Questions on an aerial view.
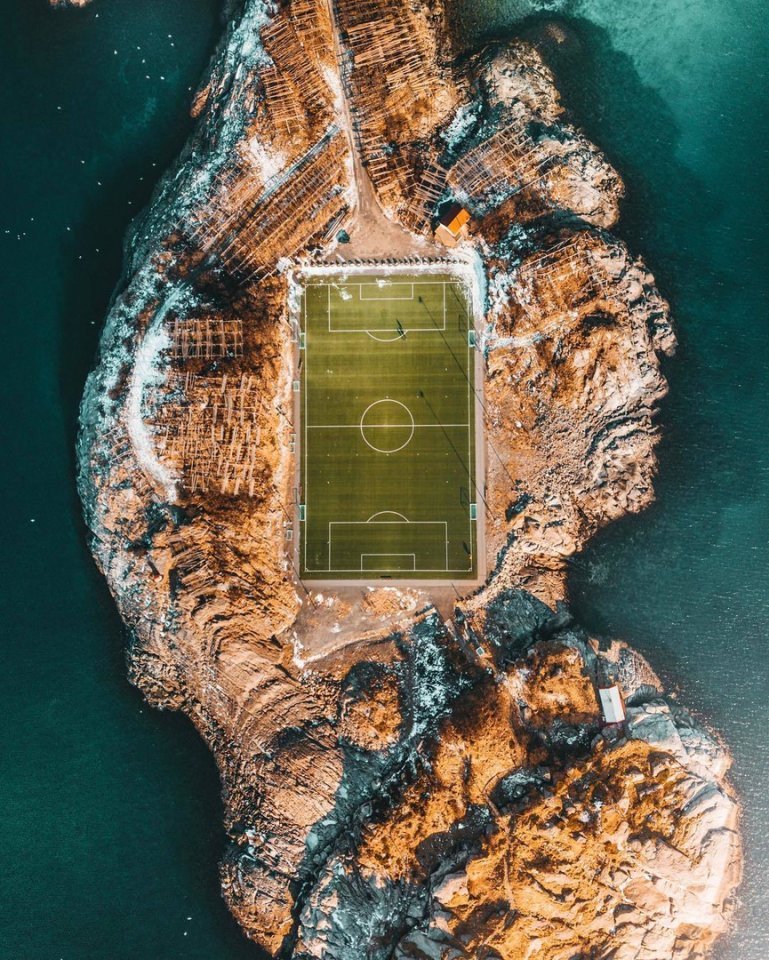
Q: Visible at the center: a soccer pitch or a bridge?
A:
soccer pitch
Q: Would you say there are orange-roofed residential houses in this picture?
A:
Yes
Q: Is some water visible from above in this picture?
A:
Yes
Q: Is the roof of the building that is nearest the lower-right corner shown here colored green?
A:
No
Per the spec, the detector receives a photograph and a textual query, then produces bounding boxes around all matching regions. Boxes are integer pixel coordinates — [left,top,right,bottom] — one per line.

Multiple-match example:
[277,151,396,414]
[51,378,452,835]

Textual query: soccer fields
[295,275,487,589]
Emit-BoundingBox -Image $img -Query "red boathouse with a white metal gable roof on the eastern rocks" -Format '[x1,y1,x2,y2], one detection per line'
[597,683,624,722]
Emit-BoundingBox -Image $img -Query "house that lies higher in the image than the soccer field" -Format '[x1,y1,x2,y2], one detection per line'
[440,207,470,246]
